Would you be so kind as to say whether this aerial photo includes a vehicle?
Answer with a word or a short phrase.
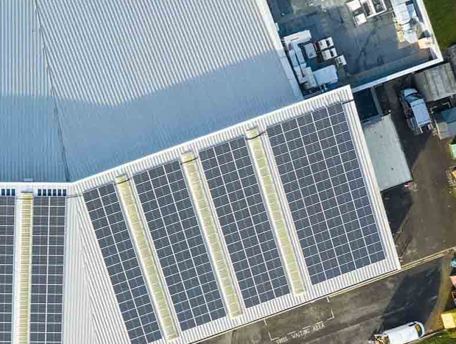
Yes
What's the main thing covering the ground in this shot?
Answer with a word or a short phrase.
buildings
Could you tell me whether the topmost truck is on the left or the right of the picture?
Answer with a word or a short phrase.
right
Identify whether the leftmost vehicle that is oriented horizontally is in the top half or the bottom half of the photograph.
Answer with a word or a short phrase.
bottom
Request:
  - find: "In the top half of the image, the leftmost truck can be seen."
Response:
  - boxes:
[398,90,435,135]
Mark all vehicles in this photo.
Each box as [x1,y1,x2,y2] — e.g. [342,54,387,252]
[368,321,427,344]
[398,90,435,135]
